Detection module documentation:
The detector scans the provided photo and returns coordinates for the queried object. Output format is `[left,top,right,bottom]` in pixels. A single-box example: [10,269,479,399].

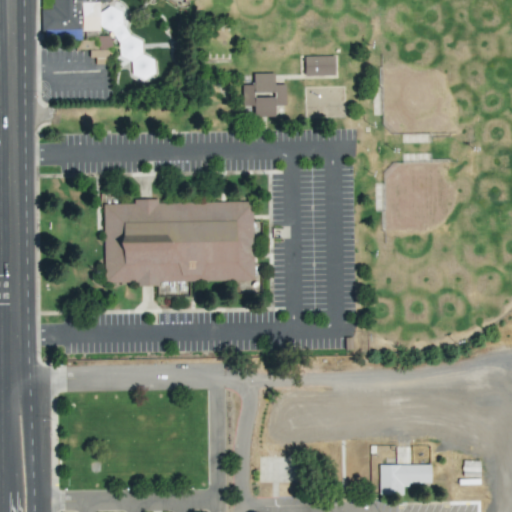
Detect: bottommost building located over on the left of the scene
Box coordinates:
[104,198,256,286]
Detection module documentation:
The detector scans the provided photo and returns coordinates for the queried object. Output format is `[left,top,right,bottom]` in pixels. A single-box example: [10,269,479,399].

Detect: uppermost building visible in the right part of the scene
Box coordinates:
[306,56,337,76]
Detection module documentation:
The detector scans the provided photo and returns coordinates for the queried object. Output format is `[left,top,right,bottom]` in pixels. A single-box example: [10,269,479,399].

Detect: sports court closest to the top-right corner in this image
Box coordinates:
[305,86,346,118]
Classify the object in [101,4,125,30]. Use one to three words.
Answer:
building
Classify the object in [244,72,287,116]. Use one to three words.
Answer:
building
